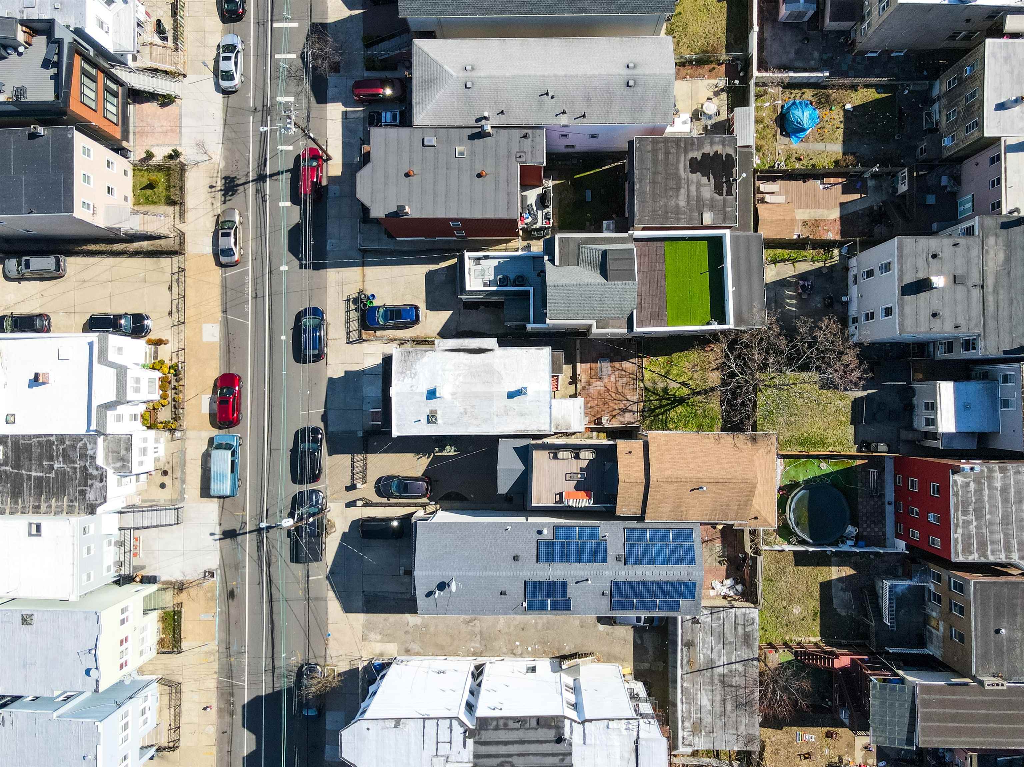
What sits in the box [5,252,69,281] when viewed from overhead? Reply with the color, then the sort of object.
gray car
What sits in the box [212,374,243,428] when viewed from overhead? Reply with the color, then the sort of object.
red car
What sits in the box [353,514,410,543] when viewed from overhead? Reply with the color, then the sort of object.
black car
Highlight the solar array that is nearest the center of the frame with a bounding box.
[538,527,607,564]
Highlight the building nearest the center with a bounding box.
[380,340,584,436]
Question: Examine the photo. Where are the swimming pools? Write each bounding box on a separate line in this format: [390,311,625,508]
[780,479,850,545]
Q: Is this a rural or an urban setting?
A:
urban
